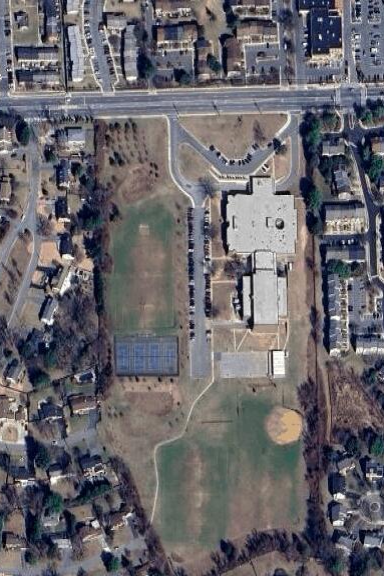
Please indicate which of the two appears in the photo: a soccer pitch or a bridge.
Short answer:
soccer pitch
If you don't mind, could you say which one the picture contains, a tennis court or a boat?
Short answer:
tennis court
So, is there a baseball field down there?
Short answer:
Yes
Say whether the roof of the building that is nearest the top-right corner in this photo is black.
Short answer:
Yes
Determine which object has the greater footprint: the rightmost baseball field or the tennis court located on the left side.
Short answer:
the tennis court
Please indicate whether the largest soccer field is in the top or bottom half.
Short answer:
bottom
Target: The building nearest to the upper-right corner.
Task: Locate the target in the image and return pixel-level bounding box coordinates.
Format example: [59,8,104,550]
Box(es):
[299,0,343,58]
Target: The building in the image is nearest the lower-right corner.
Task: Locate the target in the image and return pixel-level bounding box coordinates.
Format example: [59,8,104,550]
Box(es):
[362,532,384,551]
